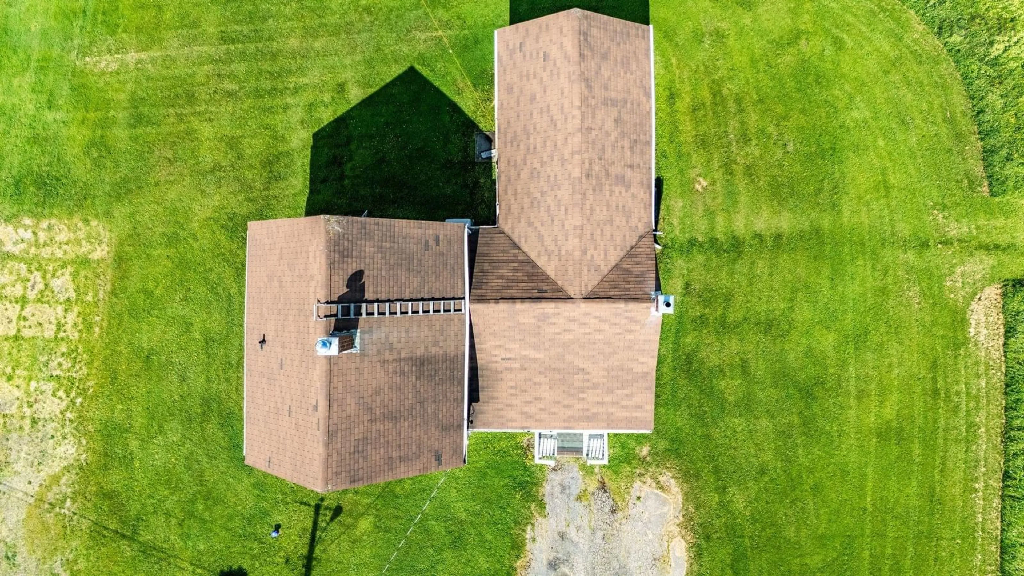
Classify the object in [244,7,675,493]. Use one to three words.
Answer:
house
